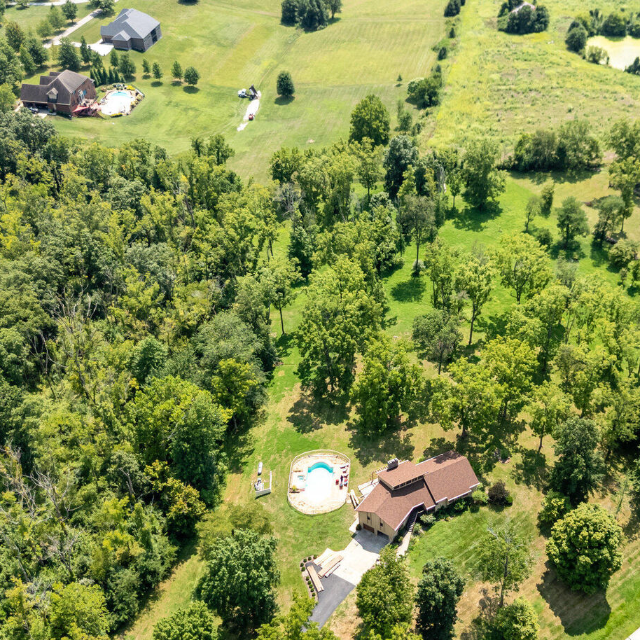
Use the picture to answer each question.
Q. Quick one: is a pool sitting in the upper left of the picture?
Yes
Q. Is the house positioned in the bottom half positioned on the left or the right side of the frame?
right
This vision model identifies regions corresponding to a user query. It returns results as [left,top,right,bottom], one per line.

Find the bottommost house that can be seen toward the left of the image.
[20,70,97,117]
